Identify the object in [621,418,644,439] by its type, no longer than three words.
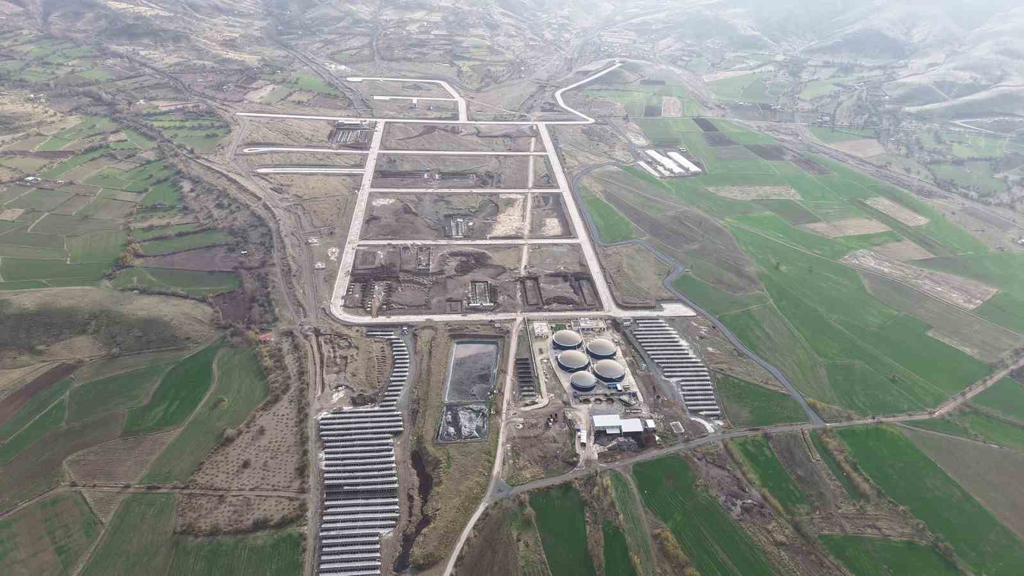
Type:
building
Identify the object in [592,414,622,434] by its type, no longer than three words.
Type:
building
